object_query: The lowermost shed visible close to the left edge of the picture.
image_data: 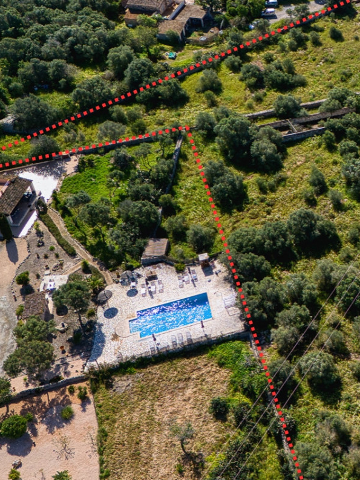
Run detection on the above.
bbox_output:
[12,286,42,318]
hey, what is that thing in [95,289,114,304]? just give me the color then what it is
gray umbrella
